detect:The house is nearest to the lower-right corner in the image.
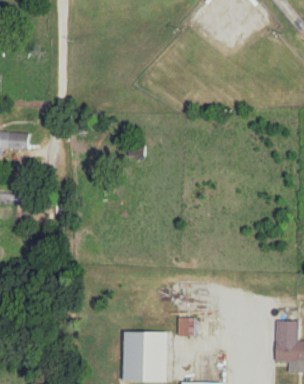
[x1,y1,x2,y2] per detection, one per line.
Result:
[274,321,304,374]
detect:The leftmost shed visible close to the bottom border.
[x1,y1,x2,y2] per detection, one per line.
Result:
[124,332,174,382]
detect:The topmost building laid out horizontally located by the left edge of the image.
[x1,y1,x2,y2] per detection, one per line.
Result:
[0,132,44,150]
